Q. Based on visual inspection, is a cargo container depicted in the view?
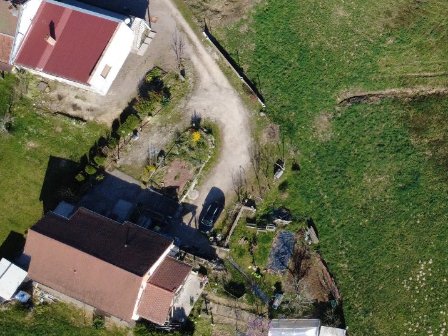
No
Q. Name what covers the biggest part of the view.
grass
